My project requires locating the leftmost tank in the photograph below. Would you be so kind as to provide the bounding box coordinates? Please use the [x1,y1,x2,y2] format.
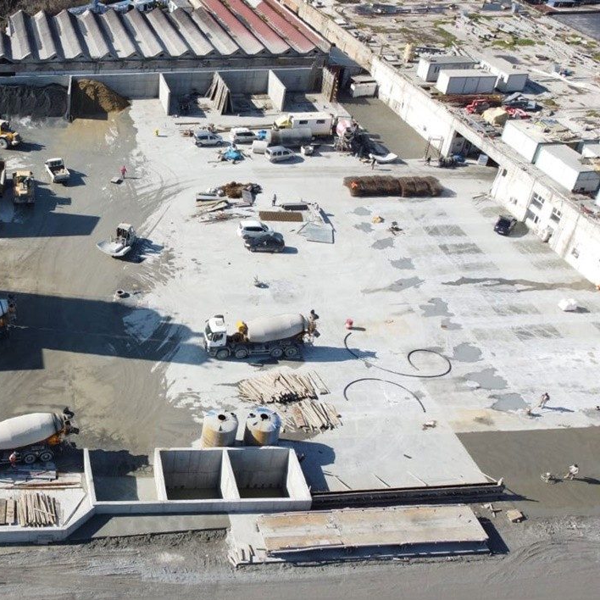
[202,403,241,439]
